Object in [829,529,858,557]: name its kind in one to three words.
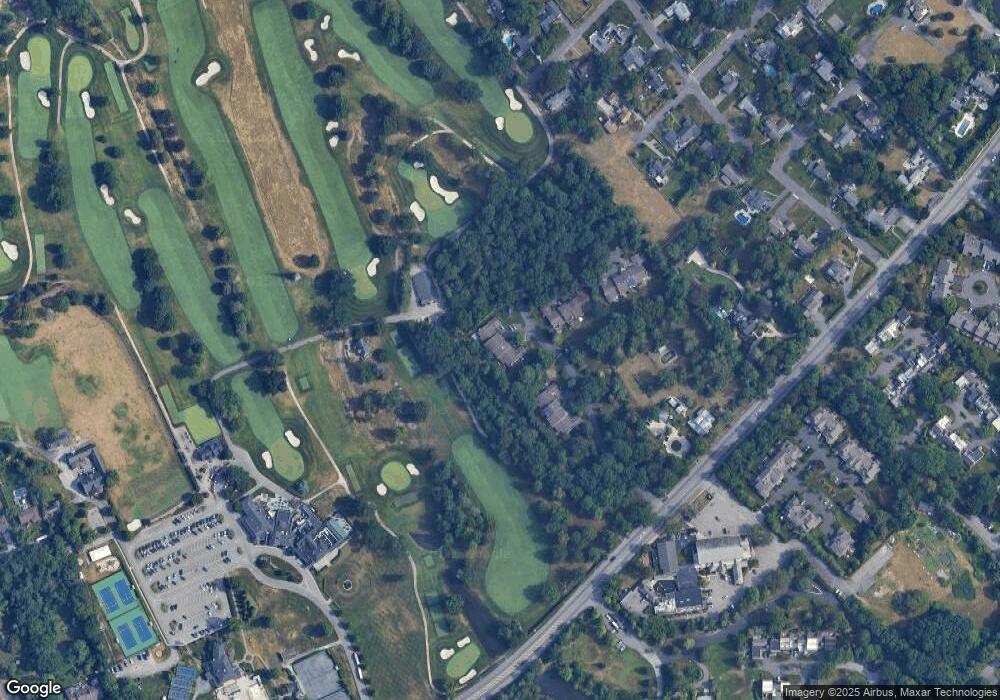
building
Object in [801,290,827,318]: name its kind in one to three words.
house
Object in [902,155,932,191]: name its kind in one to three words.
house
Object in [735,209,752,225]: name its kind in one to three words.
swimming pool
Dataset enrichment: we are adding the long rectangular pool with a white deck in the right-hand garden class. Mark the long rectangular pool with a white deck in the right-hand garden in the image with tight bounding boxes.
[952,111,975,139]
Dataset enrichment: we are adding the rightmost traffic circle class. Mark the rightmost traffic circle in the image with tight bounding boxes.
[963,271,997,305]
